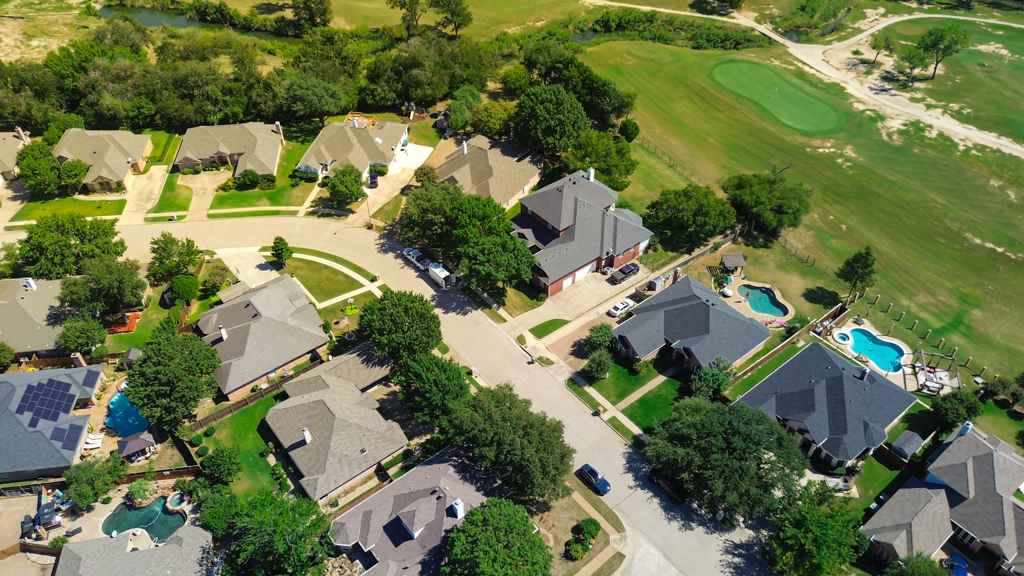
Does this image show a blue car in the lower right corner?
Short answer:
Yes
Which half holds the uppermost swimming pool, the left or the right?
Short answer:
right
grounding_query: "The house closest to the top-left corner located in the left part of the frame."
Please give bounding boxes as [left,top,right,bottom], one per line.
[0,126,32,182]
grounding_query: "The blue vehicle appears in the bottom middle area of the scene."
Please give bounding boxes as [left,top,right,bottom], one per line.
[579,463,612,495]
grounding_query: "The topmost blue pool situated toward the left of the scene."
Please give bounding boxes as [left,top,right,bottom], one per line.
[101,391,152,439]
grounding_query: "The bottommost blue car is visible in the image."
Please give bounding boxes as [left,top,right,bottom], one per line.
[949,555,970,576]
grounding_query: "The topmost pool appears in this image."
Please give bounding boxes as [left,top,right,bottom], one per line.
[735,283,790,318]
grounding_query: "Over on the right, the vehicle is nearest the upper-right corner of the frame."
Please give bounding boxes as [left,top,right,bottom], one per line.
[610,262,639,280]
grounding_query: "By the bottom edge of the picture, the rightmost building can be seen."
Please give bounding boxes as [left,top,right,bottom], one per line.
[864,418,1024,576]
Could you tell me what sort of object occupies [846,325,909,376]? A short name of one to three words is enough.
swimming pool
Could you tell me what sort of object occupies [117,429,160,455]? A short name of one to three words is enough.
gazebo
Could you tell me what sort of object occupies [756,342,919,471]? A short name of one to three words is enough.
house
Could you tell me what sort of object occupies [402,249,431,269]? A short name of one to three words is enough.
vehicle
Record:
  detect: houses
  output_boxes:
[197,273,330,402]
[509,166,654,293]
[55,527,226,576]
[265,343,409,500]
[329,445,512,576]
[864,418,1024,576]
[174,121,286,189]
[0,126,32,182]
[296,118,409,183]
[612,266,771,375]
[436,135,544,213]
[0,350,106,484]
[756,342,919,471]
[53,127,153,195]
